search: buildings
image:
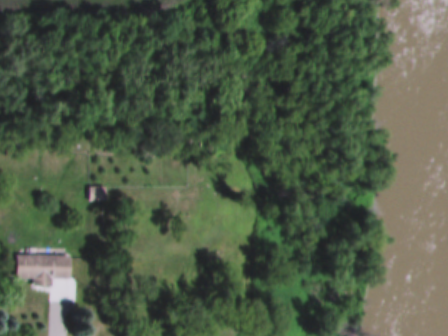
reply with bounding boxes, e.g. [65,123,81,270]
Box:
[16,248,72,286]
[88,186,106,202]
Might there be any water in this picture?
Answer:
Yes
